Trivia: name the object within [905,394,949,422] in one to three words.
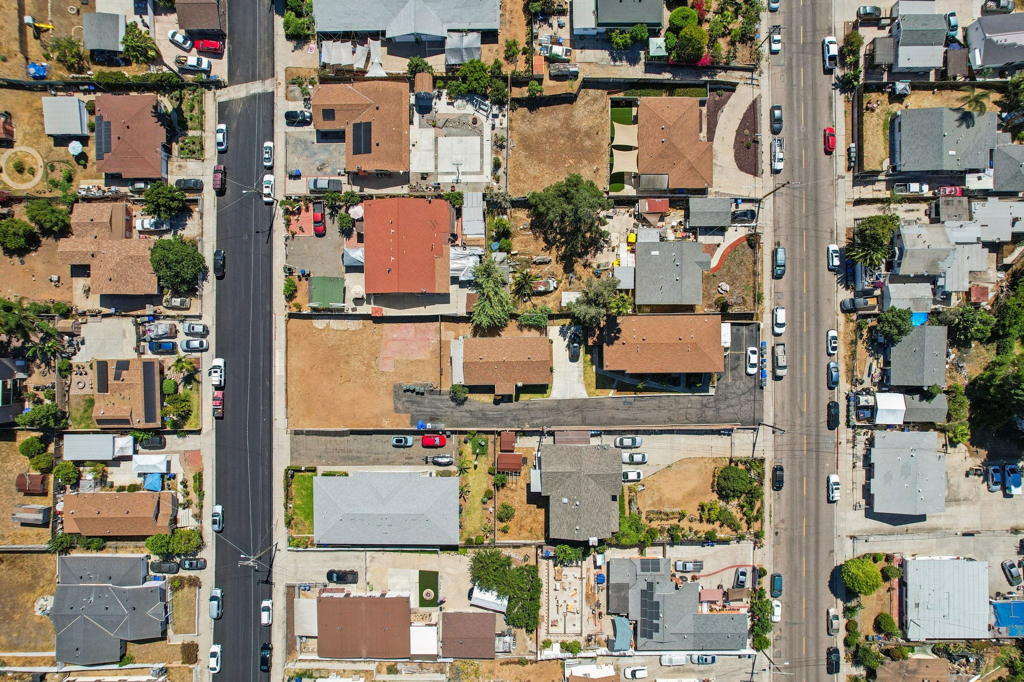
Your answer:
building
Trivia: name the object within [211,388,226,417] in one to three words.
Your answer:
vehicle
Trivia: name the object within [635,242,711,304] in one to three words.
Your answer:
house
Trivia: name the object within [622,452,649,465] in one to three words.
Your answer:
vehicle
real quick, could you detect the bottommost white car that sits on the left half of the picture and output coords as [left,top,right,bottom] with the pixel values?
[209,643,223,674]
